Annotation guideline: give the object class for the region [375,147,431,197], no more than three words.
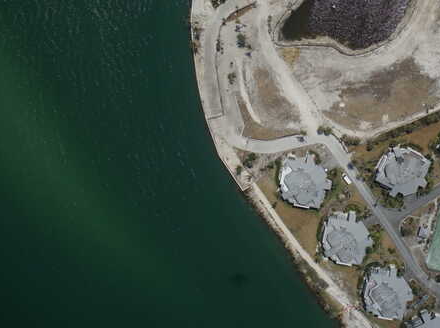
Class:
house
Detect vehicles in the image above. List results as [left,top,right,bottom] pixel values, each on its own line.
[341,173,352,184]
[419,296,427,303]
